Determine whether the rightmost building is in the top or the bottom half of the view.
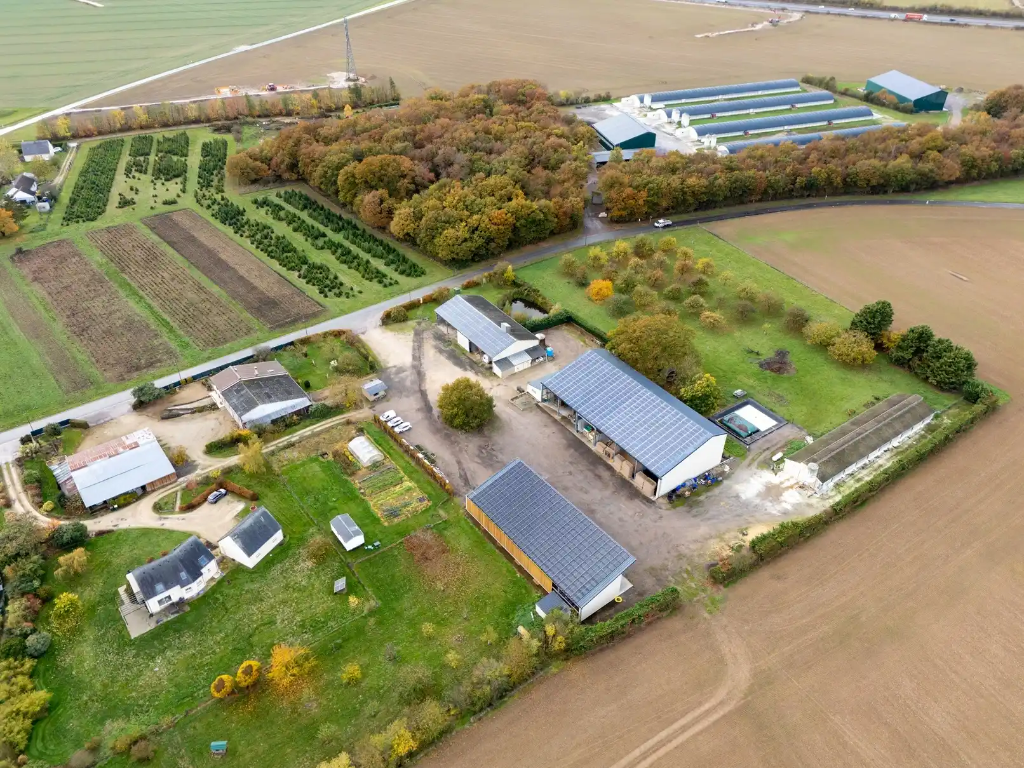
top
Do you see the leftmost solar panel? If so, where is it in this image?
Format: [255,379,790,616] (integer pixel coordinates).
[331,575,347,593]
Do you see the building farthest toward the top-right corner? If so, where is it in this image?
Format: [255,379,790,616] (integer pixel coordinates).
[866,70,955,113]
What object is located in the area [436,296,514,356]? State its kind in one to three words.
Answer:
solar array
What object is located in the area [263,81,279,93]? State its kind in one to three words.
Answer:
vehicle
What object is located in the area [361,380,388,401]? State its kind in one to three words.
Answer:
shed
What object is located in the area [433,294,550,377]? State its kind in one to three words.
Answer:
barn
